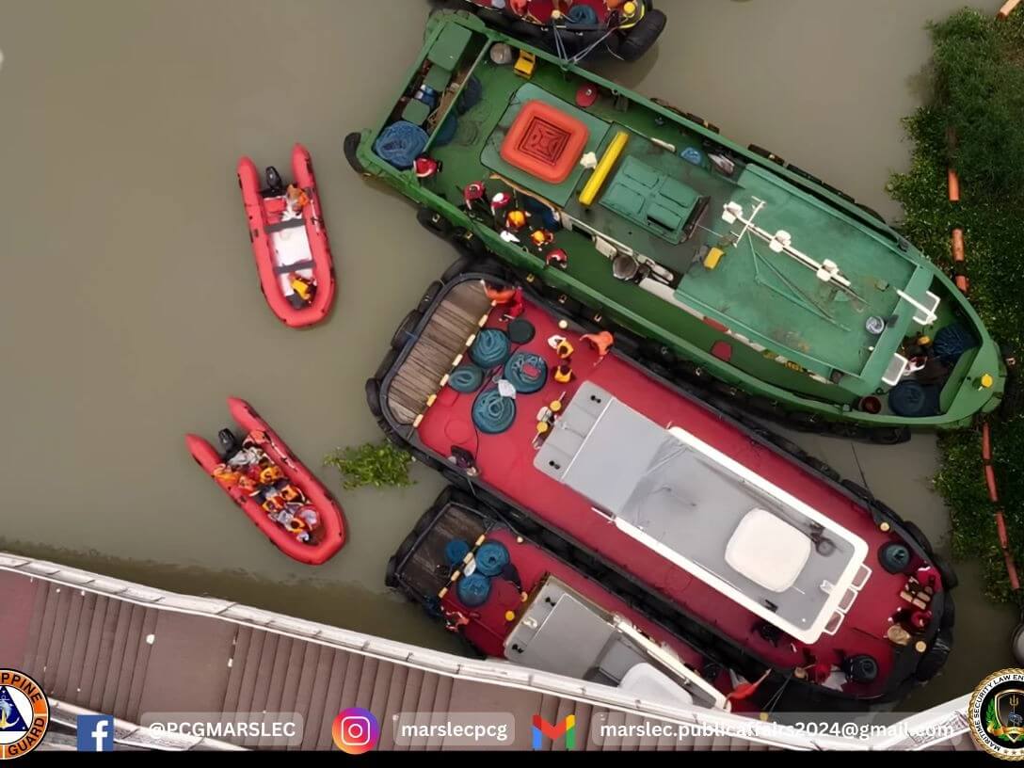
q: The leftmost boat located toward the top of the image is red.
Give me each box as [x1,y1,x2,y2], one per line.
[238,144,337,329]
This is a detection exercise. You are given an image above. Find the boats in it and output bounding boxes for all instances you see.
[187,397,347,563]
[238,144,337,329]
[341,1,1017,442]
[381,477,767,718]
[363,256,956,707]
[433,0,671,63]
